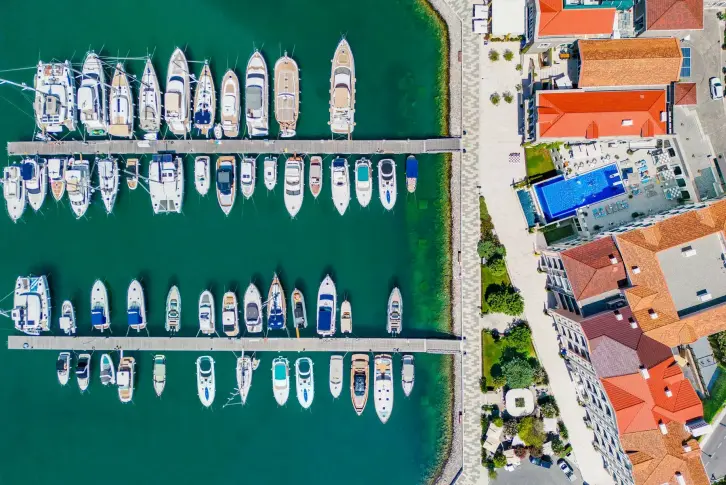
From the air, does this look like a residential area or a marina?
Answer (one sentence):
It's a marina.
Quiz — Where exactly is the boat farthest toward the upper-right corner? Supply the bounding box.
[402,153,419,201]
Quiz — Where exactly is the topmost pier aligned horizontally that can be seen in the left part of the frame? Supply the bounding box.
[7,138,463,156]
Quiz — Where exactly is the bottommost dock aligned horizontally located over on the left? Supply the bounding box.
[8,335,462,352]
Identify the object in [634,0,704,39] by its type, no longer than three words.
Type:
building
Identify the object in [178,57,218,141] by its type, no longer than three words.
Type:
boat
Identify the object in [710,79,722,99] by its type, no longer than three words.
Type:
vehicle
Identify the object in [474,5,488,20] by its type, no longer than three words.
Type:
umbrella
